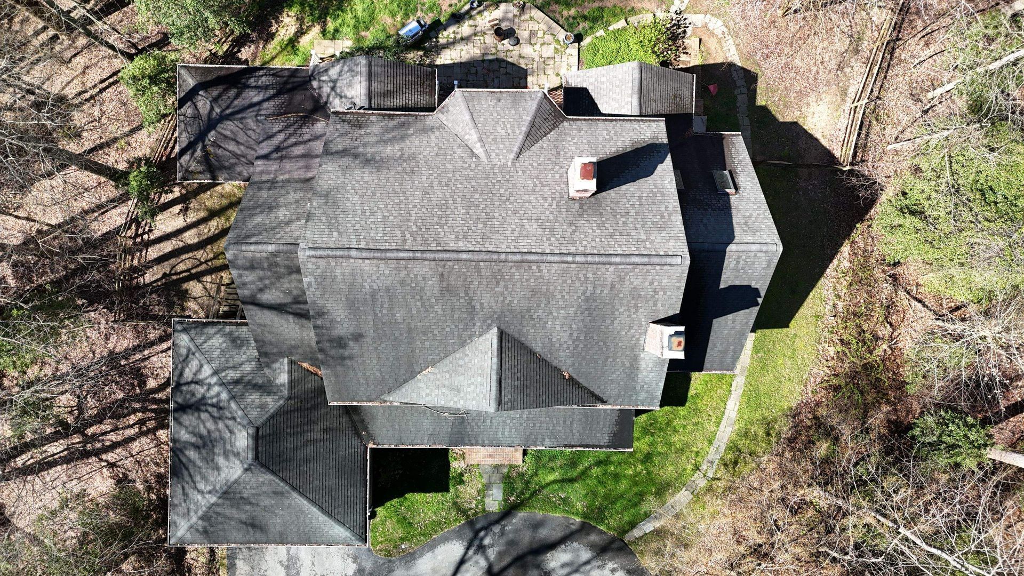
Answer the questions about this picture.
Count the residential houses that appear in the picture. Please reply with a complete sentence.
I count just 1 residential house.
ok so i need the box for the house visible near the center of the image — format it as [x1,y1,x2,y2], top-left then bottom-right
[170,56,782,549]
